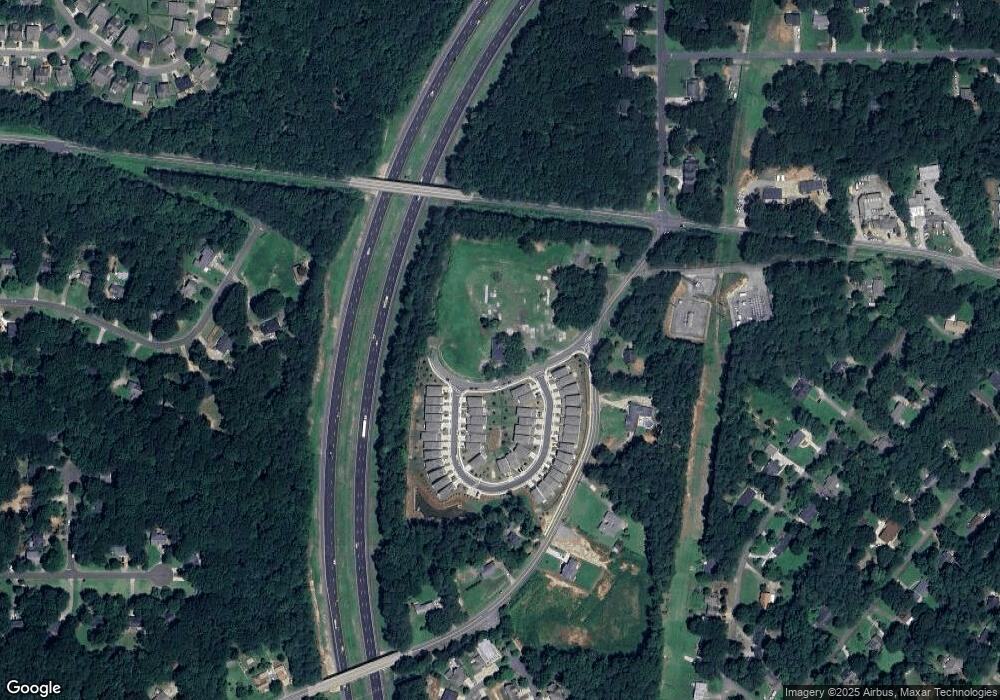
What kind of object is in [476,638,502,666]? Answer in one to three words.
house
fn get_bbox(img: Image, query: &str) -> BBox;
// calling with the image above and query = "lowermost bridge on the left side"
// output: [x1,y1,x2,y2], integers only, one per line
[303,650,405,697]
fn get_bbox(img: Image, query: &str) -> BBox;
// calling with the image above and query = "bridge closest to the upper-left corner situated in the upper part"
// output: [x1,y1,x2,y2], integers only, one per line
[349,177,473,201]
